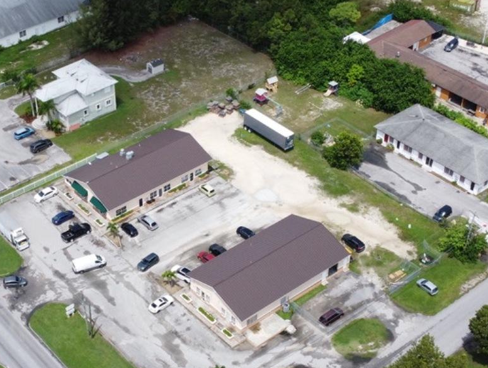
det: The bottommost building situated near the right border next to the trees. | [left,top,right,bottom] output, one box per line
[376,103,488,191]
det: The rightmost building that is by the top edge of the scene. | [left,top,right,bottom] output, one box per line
[365,18,488,118]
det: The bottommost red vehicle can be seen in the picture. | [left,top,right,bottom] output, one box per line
[194,248,217,264]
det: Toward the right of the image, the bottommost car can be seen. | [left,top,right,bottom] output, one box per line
[318,308,345,325]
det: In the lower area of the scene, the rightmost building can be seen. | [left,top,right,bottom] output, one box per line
[171,215,351,350]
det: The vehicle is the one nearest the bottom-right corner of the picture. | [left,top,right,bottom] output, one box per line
[416,278,441,295]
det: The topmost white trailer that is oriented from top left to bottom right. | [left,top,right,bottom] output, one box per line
[245,109,294,148]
